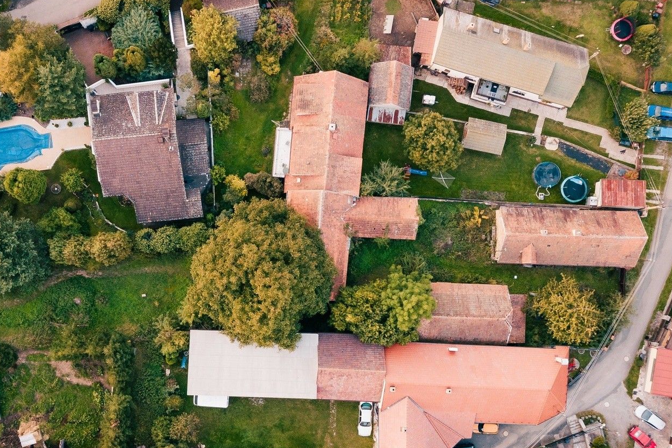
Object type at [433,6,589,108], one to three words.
house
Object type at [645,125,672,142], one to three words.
car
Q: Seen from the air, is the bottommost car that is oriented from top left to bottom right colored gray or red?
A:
red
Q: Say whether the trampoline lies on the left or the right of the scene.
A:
right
